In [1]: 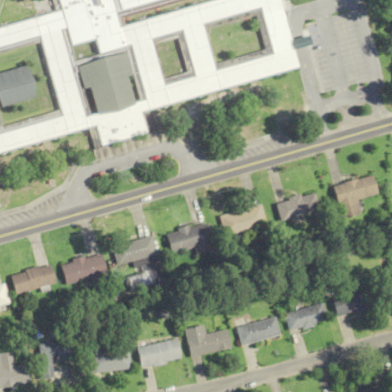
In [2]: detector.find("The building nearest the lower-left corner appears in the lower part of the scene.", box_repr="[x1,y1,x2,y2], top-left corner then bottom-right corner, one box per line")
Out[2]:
[0,353,30,388]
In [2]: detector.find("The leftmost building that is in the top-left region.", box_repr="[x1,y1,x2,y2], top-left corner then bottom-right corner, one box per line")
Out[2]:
[0,66,36,108]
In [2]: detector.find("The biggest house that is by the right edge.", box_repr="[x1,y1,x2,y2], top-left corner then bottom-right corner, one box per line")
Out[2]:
[334,176,380,218]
